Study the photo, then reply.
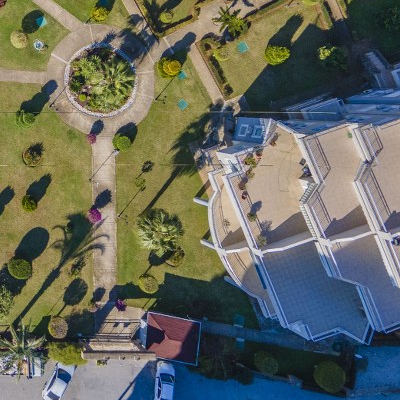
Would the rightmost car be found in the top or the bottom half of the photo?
bottom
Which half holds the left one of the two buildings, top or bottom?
bottom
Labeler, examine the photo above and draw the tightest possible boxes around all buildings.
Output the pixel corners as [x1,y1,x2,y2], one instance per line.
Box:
[199,65,400,346]
[138,309,202,366]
